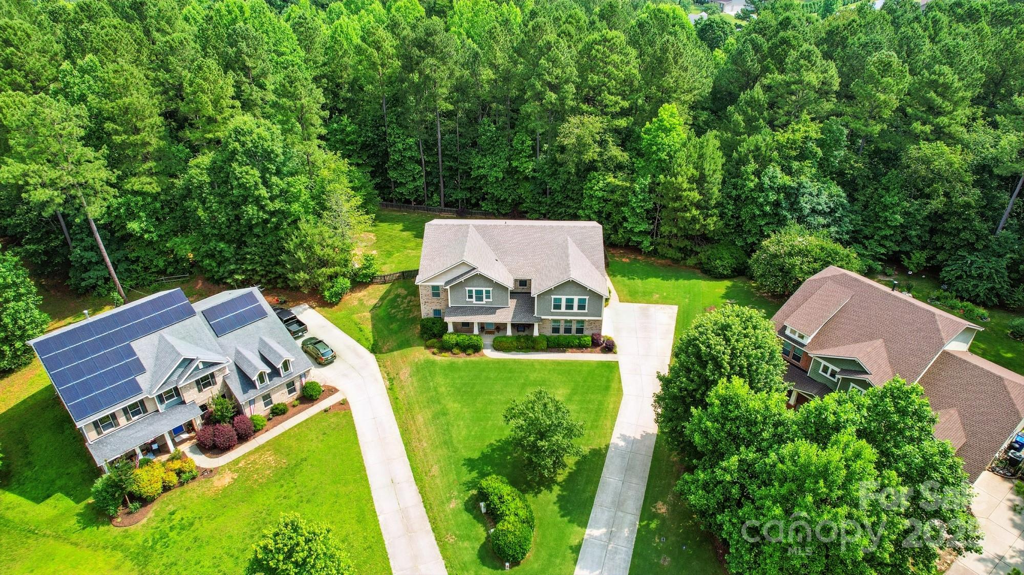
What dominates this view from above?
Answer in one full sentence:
The largest share of the image is taken up by trees.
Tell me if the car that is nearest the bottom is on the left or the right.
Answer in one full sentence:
The car that is nearest the bottom is on the left side of the image.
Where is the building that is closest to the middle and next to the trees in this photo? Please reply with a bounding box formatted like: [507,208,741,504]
[415,219,609,340]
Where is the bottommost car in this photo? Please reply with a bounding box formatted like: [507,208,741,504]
[298,335,335,365]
